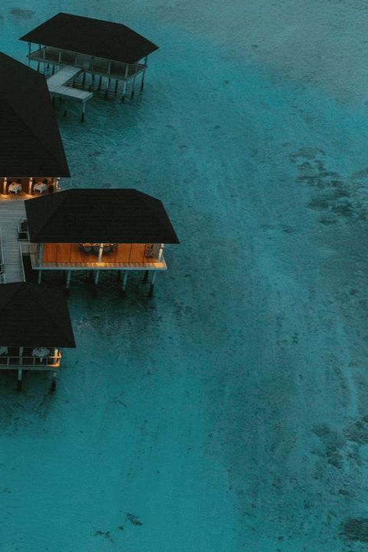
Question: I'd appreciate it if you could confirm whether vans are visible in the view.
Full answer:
No, I can see no van in this picture.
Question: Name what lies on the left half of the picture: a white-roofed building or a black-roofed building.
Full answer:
You can see a black-roofed building on the left half of the picture.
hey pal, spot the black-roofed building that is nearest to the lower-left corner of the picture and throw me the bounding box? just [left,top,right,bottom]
[0,280,76,404]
